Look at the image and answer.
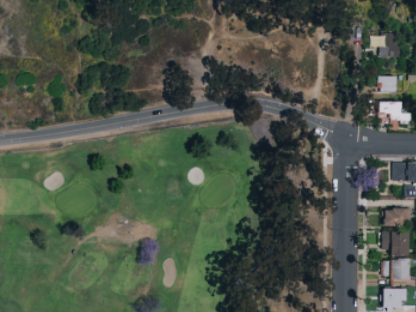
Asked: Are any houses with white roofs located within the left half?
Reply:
No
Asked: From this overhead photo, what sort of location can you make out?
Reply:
golf course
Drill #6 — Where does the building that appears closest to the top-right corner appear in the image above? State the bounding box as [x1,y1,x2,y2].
[366,30,400,56]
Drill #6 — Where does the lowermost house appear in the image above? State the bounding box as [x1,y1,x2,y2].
[384,288,408,309]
